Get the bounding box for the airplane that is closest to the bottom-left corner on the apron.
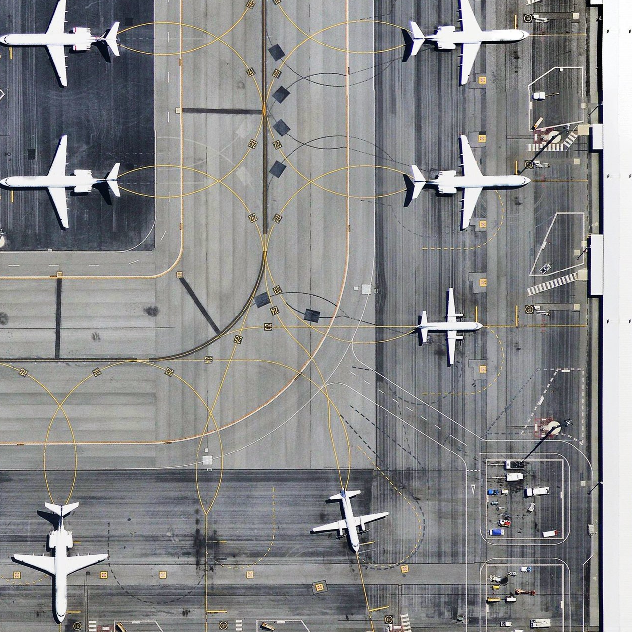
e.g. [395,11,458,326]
[14,502,109,623]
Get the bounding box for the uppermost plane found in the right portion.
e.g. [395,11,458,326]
[409,0,529,82]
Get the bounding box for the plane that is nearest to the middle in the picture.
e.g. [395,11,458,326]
[419,288,482,364]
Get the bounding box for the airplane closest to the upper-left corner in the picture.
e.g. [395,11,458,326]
[0,0,121,87]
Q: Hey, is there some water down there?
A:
No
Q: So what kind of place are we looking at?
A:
airport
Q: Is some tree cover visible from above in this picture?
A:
No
